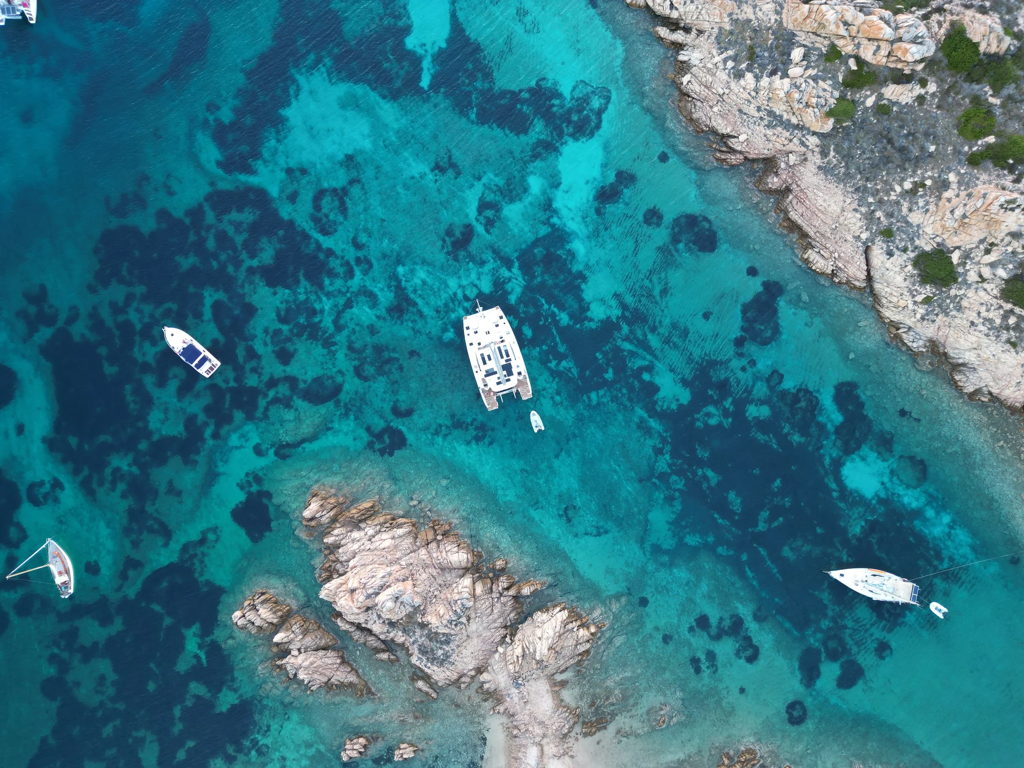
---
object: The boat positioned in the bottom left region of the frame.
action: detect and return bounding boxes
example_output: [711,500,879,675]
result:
[7,536,75,599]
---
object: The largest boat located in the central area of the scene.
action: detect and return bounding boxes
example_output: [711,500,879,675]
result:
[463,300,532,411]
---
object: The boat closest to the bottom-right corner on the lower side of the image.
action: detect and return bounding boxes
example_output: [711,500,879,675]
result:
[929,601,948,618]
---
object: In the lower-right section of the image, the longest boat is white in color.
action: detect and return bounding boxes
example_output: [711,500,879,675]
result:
[823,567,921,610]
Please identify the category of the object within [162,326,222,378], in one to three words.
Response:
boat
